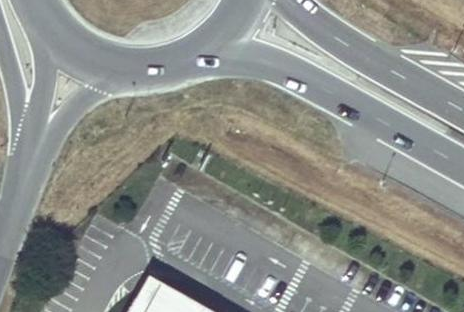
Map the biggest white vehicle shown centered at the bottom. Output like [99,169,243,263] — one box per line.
[226,252,248,282]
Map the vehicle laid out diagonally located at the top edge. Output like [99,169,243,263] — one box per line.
[296,0,318,14]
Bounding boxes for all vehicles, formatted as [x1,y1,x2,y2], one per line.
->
[146,66,166,77]
[258,276,276,298]
[388,286,405,307]
[364,274,380,294]
[393,134,414,150]
[296,0,318,14]
[286,80,308,93]
[338,106,360,120]
[198,58,218,69]
[376,280,394,302]
[270,282,286,303]
[344,262,360,282]
[226,252,248,282]
[401,293,418,312]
